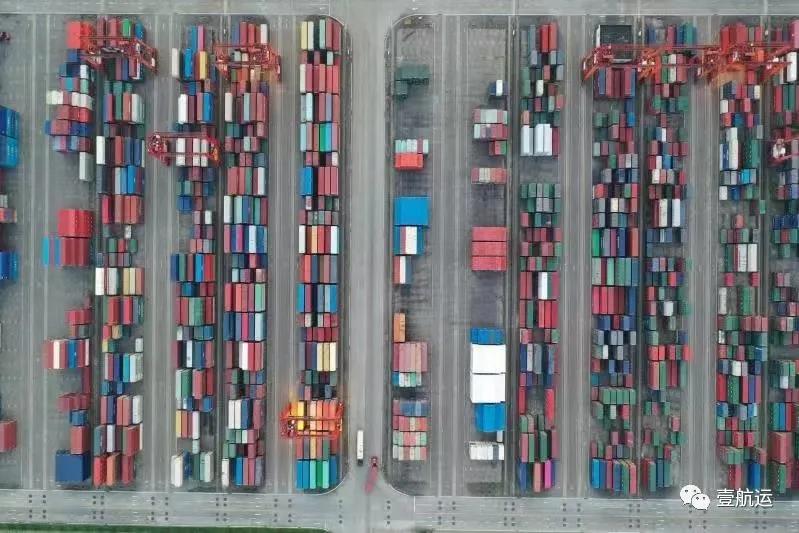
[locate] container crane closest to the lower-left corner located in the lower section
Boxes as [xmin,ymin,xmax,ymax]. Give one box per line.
[279,402,344,439]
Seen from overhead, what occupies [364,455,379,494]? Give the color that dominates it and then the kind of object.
red vehicle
